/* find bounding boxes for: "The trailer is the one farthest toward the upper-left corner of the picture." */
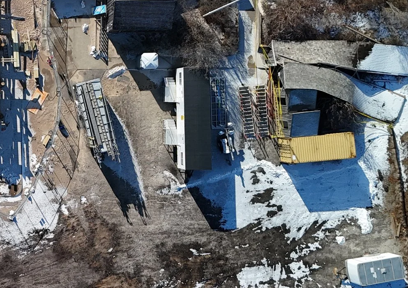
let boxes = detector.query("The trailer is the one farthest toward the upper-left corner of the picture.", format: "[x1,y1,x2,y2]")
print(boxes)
[72,73,123,167]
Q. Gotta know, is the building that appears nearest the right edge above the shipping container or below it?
above it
